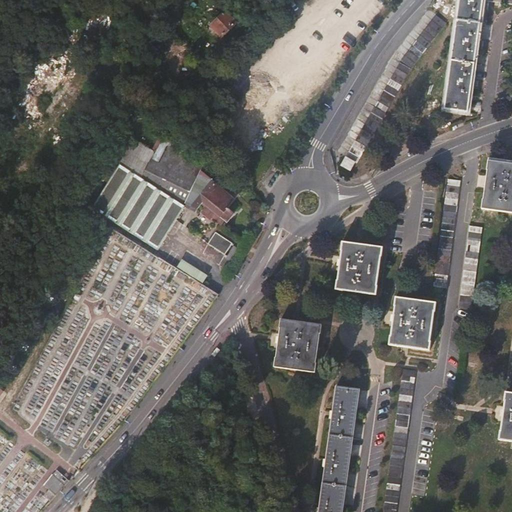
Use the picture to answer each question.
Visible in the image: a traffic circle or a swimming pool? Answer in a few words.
traffic circle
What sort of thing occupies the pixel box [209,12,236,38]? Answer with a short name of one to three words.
house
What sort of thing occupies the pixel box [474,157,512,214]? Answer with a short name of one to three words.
building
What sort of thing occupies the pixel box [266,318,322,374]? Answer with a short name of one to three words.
building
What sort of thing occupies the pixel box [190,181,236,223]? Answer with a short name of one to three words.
house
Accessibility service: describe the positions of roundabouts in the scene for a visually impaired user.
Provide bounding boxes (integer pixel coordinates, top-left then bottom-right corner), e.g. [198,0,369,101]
[272,147,369,253]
